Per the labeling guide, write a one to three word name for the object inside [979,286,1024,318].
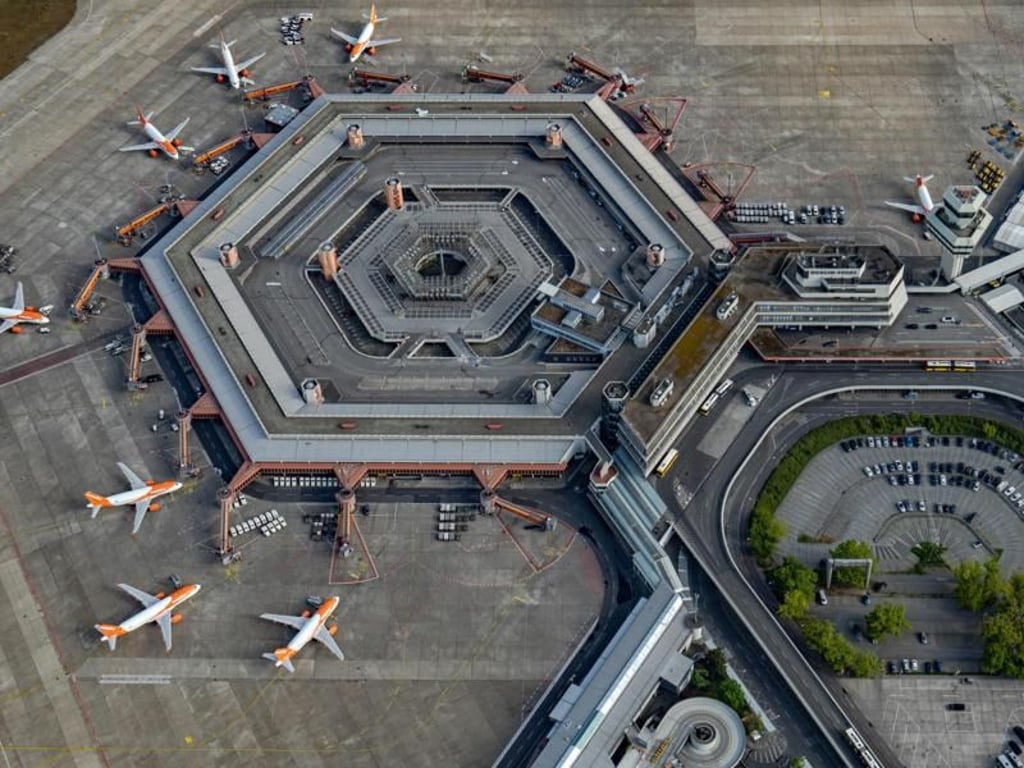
shed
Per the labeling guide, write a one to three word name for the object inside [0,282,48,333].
airplane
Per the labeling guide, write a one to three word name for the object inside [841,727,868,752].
bus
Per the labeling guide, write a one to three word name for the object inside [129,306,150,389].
jet bridge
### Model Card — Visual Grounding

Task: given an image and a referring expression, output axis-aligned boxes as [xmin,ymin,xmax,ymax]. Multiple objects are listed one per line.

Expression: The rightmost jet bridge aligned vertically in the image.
[338,486,356,553]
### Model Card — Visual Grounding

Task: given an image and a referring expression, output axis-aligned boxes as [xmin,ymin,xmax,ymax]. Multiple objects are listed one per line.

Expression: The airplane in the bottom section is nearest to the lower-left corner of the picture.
[101,584,200,651]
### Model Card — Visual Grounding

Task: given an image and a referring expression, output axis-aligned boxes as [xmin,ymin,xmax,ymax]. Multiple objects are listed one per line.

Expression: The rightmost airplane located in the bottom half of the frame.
[260,599,342,671]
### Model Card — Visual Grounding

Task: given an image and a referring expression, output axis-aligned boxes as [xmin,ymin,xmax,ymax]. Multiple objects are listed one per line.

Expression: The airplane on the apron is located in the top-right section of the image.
[885,170,937,227]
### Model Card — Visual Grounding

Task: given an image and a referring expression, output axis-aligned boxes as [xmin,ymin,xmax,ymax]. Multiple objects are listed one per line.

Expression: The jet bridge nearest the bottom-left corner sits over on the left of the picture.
[217,486,236,564]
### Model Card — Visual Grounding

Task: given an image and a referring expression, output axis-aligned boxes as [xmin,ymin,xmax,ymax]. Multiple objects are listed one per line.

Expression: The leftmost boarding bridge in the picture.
[71,240,114,319]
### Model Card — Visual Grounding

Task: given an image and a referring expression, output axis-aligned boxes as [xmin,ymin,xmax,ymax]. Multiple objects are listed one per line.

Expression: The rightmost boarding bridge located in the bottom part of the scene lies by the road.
[480,487,557,532]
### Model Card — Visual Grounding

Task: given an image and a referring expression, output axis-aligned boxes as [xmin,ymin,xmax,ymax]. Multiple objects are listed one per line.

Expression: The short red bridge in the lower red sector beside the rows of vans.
[698,168,736,218]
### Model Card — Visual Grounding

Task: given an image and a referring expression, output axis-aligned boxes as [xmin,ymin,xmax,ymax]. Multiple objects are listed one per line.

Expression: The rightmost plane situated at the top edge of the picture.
[332,4,400,61]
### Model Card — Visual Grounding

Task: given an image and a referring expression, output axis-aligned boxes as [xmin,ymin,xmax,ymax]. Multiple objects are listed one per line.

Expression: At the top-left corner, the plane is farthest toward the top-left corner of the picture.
[121,105,188,158]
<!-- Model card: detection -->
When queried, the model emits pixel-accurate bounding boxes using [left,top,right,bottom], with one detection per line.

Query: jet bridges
[246,74,314,108]
[464,69,524,88]
[480,487,557,532]
[698,168,736,218]
[114,195,180,242]
[217,486,236,564]
[192,128,256,170]
[640,103,673,150]
[129,306,150,389]
[352,60,412,91]
[176,390,195,471]
[71,240,114,319]
[338,486,356,553]
[567,54,623,95]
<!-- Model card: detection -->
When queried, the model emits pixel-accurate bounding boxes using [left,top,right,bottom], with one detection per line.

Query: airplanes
[192,33,262,88]
[82,459,182,530]
[101,584,200,651]
[885,170,937,227]
[121,105,188,158]
[0,282,48,333]
[332,4,400,61]
[260,599,342,671]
